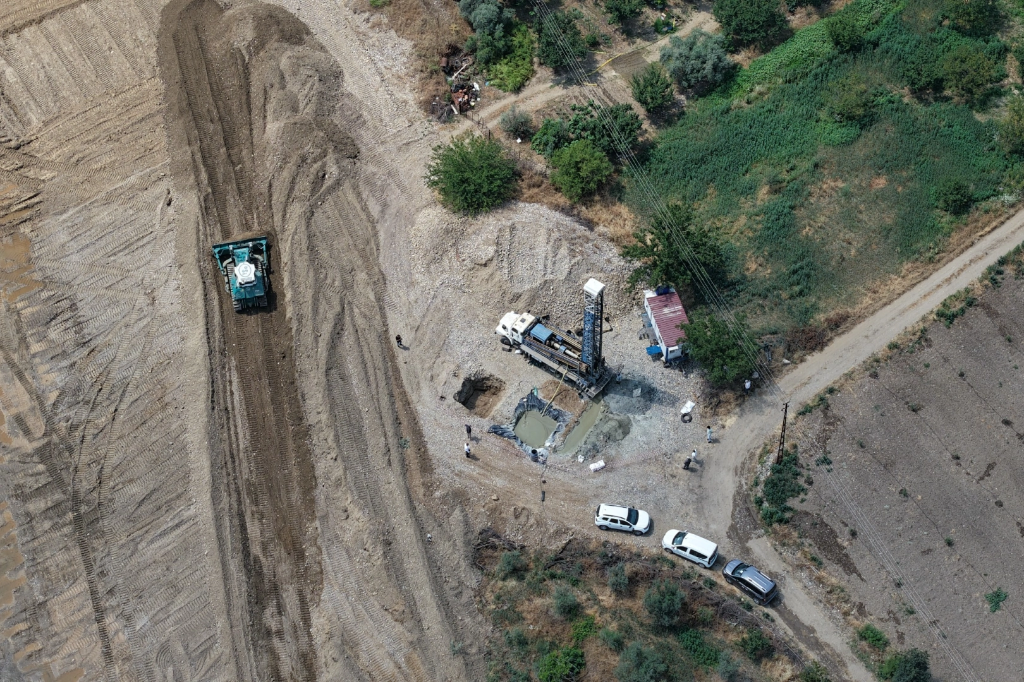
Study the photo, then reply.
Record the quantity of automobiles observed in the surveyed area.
three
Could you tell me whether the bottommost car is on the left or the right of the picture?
right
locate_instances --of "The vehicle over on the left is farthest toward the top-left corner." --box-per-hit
[214,235,274,311]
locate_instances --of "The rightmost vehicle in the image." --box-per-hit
[721,560,780,609]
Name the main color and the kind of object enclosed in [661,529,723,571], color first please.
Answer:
white car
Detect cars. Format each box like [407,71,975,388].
[721,560,780,609]
[661,529,723,571]
[594,502,655,538]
